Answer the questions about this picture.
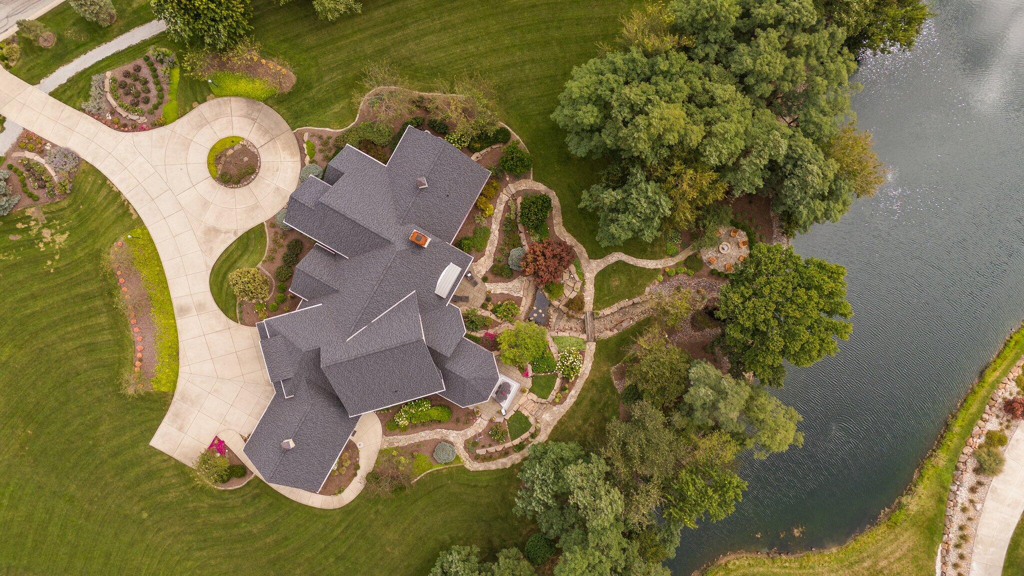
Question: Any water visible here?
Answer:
Yes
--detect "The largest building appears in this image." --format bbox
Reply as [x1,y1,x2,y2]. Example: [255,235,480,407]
[242,124,500,493]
